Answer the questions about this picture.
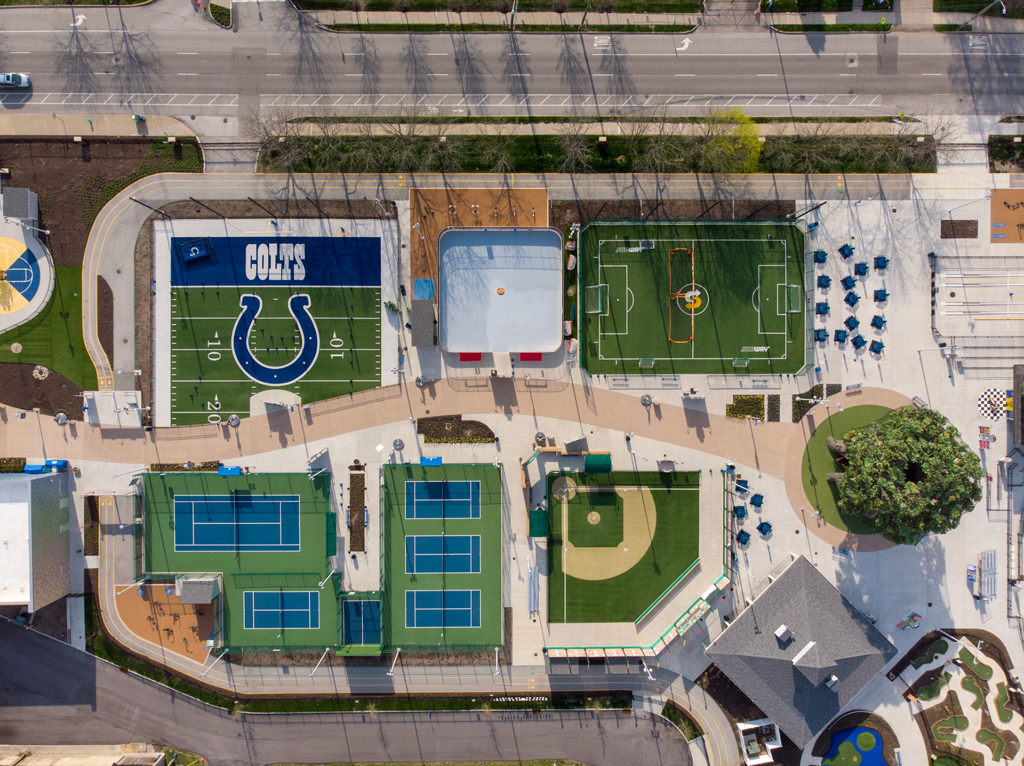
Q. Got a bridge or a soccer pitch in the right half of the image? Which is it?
soccer pitch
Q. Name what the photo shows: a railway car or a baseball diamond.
baseball diamond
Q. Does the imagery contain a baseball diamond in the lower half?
Yes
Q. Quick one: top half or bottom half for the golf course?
bottom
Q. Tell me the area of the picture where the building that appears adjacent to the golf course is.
bottom right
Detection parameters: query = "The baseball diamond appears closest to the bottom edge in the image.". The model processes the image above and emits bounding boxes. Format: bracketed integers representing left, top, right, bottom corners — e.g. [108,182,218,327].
[549,472,699,623]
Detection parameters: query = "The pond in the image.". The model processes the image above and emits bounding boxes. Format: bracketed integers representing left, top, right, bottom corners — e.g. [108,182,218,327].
[812,710,902,766]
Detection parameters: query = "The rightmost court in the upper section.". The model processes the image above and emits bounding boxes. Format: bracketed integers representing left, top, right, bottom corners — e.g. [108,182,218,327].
[436,224,564,353]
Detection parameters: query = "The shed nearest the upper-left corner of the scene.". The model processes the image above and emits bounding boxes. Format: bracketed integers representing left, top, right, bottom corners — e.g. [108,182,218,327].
[0,188,37,220]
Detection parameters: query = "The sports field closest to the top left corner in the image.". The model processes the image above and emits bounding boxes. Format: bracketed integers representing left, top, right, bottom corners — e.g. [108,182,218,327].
[153,219,398,428]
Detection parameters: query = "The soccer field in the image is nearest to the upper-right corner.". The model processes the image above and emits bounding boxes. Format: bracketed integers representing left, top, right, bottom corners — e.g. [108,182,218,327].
[579,222,806,377]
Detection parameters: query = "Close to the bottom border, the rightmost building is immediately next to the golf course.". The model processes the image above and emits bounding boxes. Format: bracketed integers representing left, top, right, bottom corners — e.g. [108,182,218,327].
[701,554,899,750]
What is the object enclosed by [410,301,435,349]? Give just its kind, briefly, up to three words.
shed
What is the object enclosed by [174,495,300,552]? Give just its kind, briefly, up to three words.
tennis court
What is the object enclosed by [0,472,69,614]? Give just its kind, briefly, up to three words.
building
